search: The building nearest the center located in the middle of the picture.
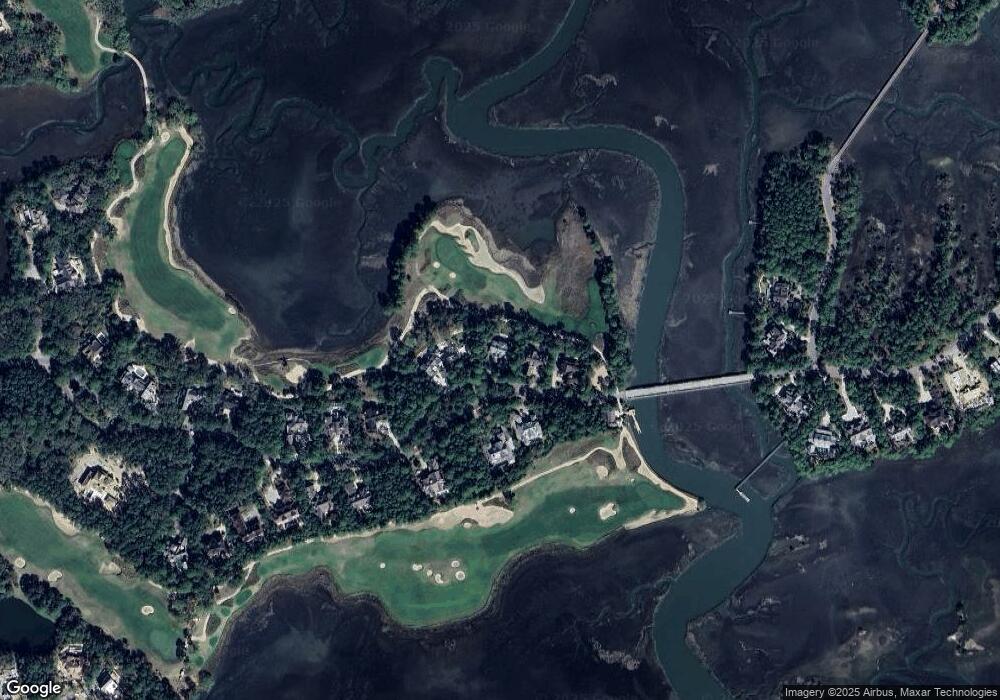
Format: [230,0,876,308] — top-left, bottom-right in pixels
[486,334,509,364]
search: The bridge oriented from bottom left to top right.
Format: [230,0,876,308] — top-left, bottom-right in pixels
[830,29,931,168]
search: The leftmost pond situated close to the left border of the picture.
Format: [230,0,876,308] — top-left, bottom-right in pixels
[0,596,57,656]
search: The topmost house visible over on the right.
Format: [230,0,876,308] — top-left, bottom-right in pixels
[768,281,801,311]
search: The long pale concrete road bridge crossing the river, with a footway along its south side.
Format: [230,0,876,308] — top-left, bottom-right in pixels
[617,374,751,399]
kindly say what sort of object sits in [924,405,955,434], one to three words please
house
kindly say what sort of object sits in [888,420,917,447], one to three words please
house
